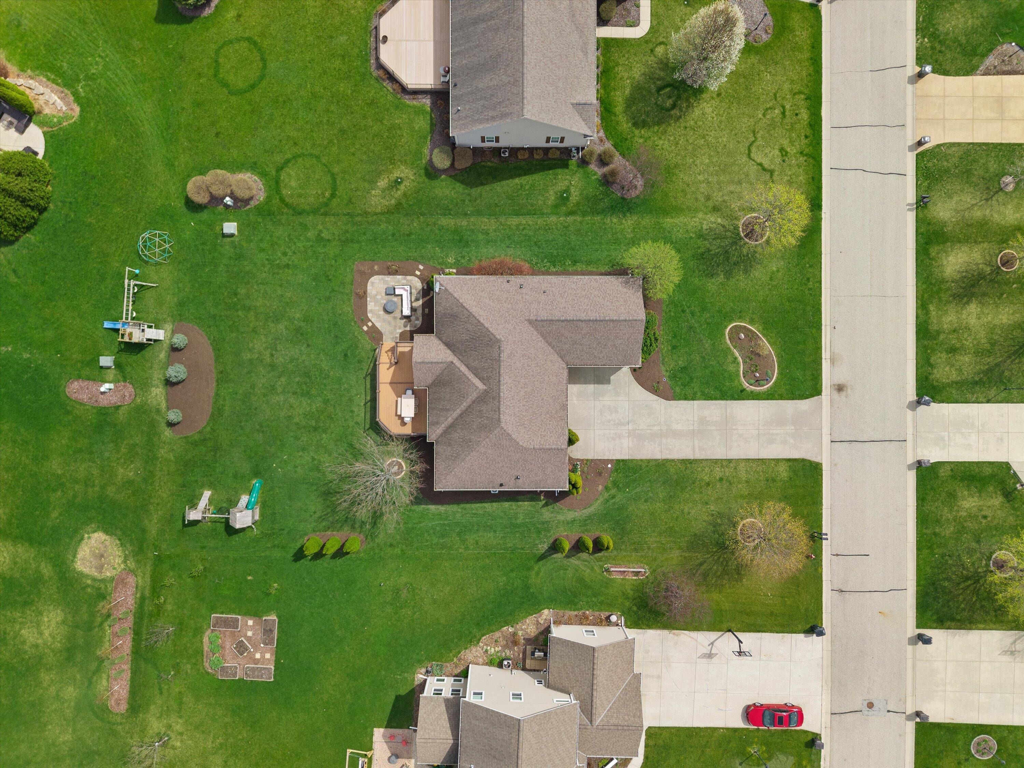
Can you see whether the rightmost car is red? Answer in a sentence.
Yes, red is the color of the rightmost car.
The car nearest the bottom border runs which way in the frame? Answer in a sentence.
In this picture, the car nearest the bottom border lies from side to side.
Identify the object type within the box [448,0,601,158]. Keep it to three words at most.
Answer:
house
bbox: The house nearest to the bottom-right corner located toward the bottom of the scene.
[409,610,647,768]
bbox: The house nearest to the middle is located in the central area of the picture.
[411,273,649,497]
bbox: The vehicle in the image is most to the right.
[744,701,803,731]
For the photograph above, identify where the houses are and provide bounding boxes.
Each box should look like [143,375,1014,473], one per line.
[448,0,601,158]
[411,273,649,497]
[409,610,647,768]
